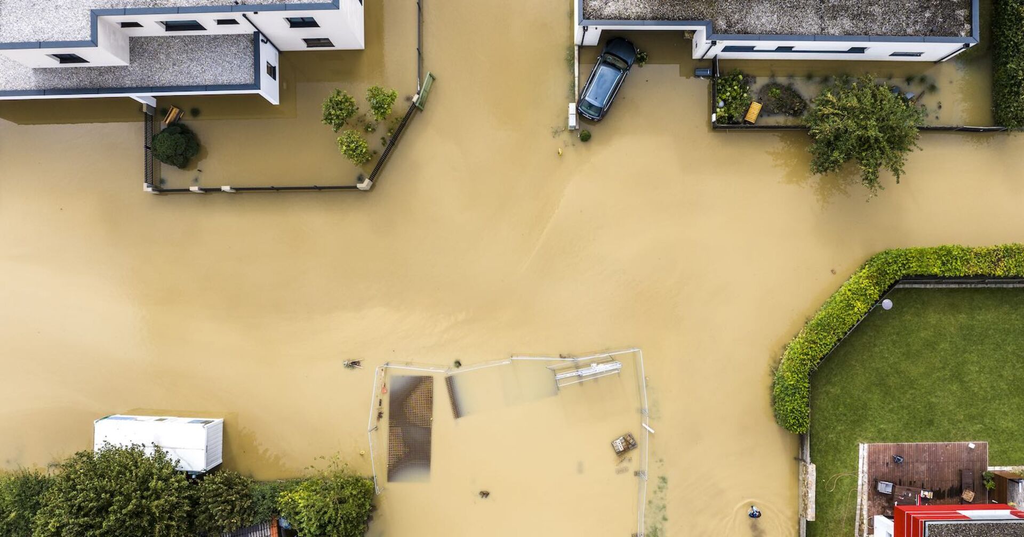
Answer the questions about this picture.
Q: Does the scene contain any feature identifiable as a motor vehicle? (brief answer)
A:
Yes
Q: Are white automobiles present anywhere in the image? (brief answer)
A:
No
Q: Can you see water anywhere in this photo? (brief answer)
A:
Yes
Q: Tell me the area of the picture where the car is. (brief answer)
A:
top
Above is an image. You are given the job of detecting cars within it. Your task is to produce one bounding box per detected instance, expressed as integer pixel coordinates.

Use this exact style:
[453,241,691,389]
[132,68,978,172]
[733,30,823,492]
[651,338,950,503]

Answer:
[576,38,638,129]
